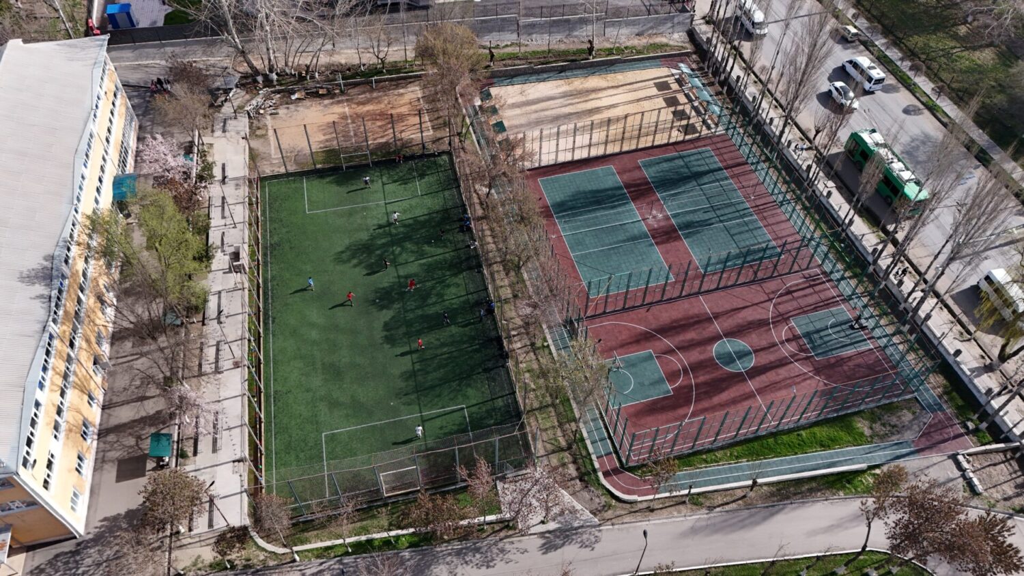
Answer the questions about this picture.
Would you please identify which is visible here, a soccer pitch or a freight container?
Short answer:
soccer pitch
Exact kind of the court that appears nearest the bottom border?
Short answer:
basketball court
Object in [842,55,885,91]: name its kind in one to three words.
vehicle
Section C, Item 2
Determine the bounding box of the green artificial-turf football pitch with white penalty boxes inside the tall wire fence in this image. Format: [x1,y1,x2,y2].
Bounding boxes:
[261,151,535,522]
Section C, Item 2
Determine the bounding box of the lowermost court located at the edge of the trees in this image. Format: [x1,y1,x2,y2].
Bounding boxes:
[570,268,912,464]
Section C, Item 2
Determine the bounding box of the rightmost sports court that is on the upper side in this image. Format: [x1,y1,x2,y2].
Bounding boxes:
[619,133,821,292]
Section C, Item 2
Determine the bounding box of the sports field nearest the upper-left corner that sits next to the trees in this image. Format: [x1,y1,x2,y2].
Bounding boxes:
[263,84,437,158]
